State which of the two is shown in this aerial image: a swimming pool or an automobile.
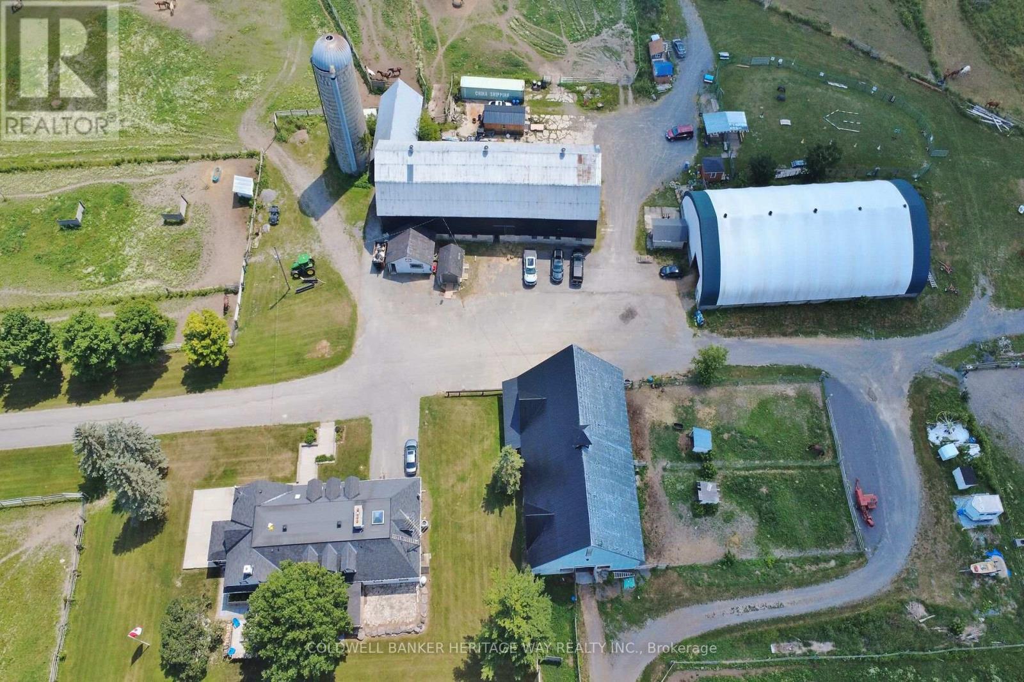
automobile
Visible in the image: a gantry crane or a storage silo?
storage silo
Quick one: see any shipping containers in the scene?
Yes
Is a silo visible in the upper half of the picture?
Yes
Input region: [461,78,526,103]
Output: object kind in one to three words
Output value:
shipping container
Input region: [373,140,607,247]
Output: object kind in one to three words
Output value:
barn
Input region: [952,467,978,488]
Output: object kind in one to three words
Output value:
shed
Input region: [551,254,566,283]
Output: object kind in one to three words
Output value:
car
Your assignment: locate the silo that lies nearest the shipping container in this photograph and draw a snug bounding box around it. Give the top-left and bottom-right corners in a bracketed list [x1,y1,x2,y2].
[313,39,373,177]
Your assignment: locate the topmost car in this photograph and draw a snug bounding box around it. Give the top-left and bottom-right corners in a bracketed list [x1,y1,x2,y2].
[673,38,688,56]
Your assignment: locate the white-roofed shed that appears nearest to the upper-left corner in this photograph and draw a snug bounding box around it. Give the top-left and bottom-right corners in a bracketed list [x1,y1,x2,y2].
[226,181,256,208]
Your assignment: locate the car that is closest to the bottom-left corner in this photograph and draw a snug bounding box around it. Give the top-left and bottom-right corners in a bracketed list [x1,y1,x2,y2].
[400,438,420,475]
